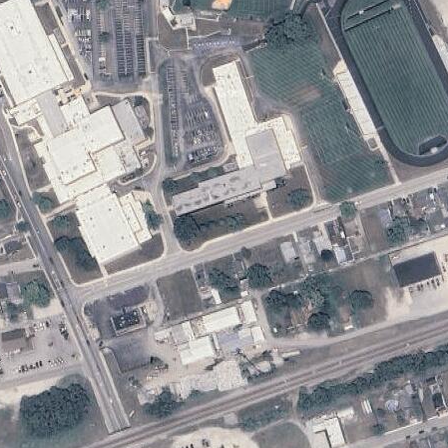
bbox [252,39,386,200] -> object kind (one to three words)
sports field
